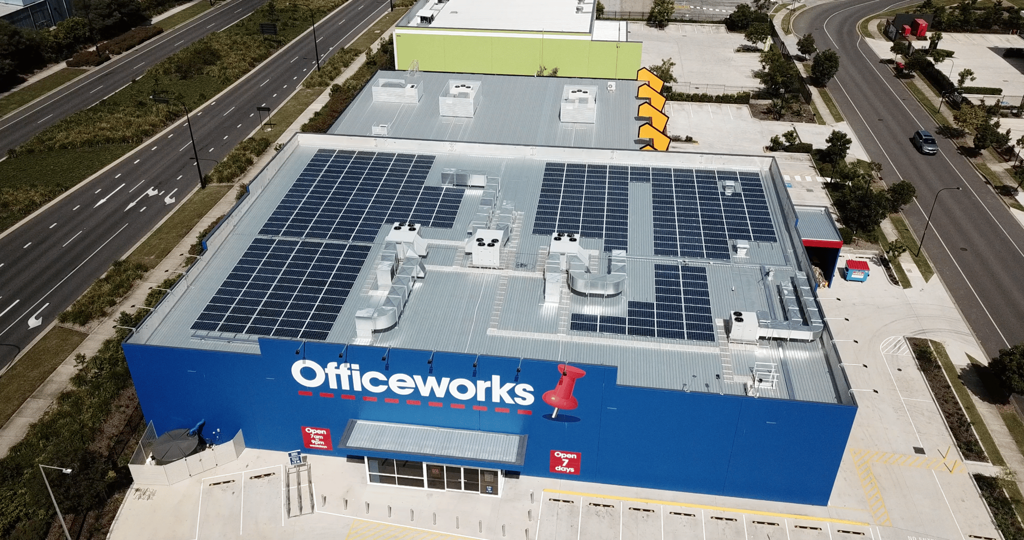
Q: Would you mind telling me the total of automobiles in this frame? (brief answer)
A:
1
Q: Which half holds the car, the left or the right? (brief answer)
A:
right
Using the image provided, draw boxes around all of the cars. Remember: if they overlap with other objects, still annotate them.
[914,129,939,152]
